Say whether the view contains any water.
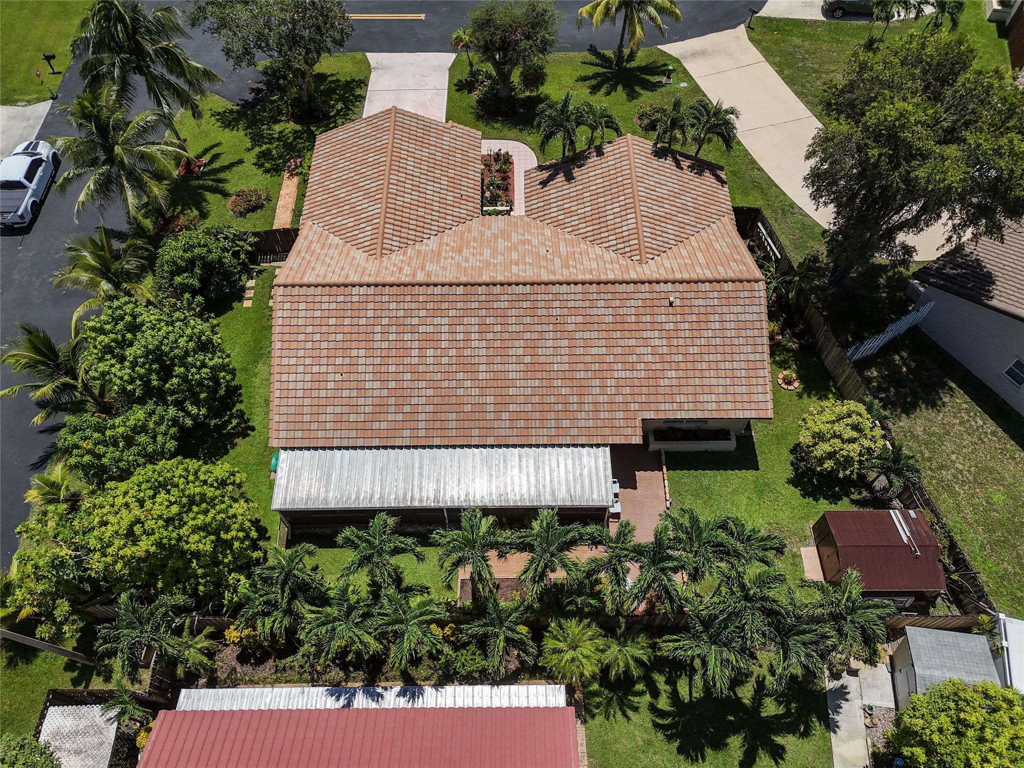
No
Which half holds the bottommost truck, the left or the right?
left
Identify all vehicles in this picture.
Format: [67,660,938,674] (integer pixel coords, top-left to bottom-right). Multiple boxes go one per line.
[0,143,64,232]
[822,0,891,22]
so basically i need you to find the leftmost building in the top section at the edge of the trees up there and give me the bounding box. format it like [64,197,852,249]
[266,107,776,454]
